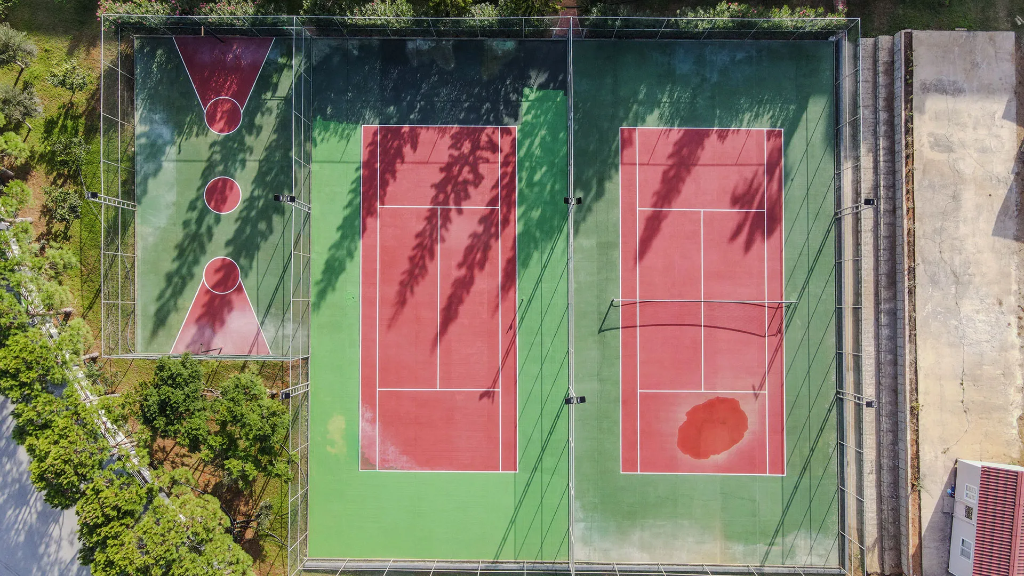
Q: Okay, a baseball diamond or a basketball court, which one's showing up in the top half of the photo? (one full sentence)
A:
What appears in the top half of the photo is a basketball court.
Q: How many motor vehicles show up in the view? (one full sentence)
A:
There are no motor vehicles in this view.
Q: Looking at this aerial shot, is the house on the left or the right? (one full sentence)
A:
The house sits on the right side.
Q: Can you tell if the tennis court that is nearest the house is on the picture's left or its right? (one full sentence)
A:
The tennis court that is nearest the house sits on the right side.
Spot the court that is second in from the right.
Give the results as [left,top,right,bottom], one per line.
[309,38,569,560]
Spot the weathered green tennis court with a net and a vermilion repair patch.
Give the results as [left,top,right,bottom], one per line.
[569,39,840,566]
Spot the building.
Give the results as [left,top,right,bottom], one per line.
[949,460,1024,576]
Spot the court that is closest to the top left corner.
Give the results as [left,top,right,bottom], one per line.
[136,37,310,355]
